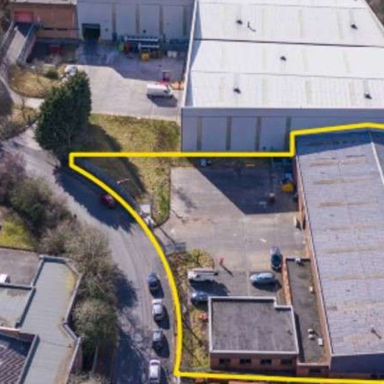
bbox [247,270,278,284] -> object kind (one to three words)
vehicle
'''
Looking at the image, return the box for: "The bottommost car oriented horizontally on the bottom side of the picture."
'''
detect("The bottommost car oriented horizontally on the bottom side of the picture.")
[184,288,215,303]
